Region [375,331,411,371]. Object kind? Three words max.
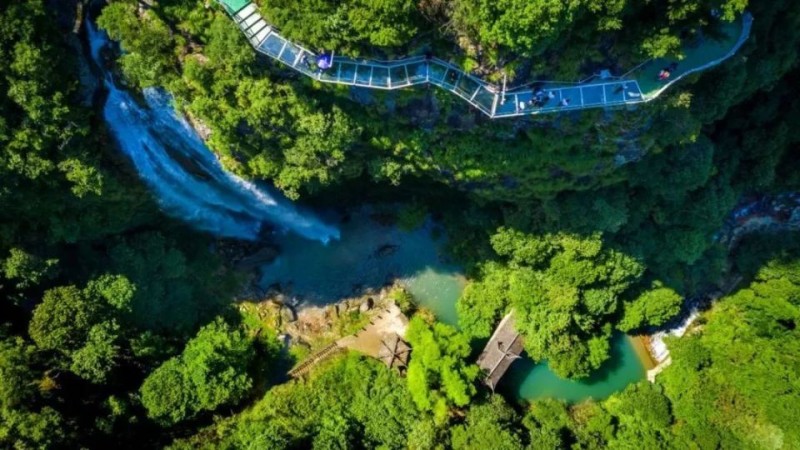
gazebo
